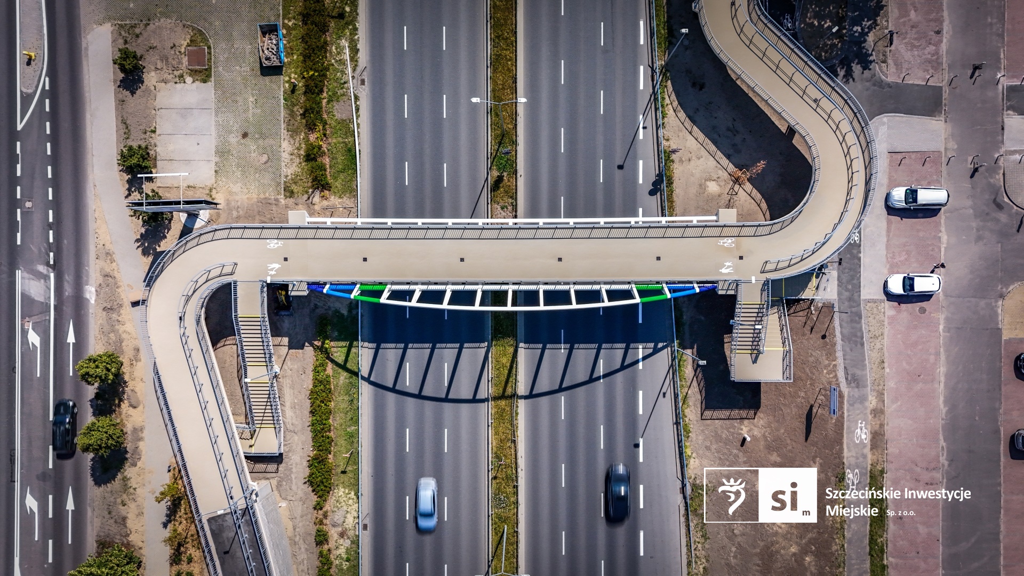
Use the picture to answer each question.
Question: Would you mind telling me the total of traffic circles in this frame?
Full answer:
I count no traffic circles.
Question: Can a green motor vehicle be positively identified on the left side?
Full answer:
No, no green motor vehicle is visible on the left side.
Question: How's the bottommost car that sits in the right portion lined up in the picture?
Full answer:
From this overhead view, the bottommost car that sits in the right portion appears to run up and down.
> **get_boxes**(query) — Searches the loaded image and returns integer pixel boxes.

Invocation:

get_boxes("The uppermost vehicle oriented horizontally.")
[890,183,950,210]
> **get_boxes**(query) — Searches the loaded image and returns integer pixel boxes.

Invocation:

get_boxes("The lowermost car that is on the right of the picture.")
[605,466,632,522]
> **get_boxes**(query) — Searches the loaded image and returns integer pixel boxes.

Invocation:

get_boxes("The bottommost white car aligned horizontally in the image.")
[885,271,939,297]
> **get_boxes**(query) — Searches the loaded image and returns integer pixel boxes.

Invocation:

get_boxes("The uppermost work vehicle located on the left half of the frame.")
[268,281,293,317]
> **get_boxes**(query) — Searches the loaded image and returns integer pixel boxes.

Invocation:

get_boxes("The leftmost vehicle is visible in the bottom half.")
[48,403,80,457]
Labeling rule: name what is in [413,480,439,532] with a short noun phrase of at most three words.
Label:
car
